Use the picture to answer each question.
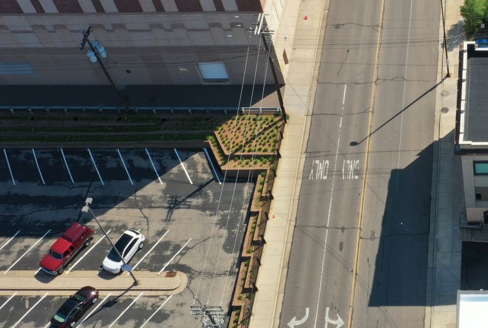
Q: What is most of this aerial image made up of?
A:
paved ground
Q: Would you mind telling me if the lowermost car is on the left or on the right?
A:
left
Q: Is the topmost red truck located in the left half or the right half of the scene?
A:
left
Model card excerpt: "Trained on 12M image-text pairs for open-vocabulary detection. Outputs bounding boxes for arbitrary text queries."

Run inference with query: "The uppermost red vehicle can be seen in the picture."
[38,224,95,276]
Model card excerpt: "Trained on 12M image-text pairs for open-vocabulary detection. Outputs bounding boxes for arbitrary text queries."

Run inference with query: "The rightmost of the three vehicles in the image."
[105,232,144,273]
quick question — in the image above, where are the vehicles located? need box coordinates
[47,286,103,328]
[105,232,144,273]
[38,224,95,276]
